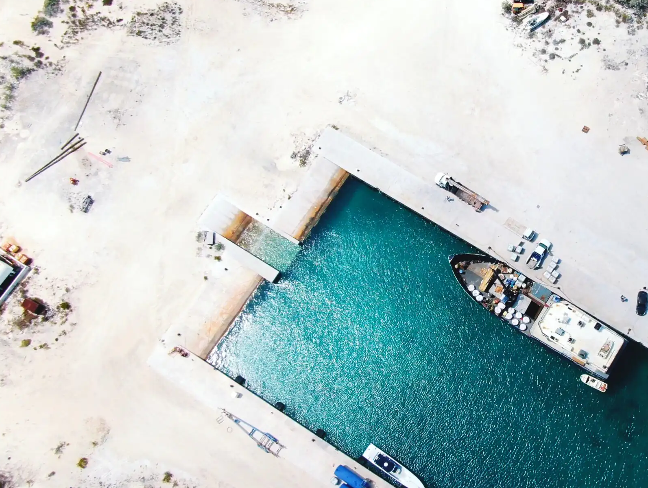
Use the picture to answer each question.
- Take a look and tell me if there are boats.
Yes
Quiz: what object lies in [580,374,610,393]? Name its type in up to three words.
boat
